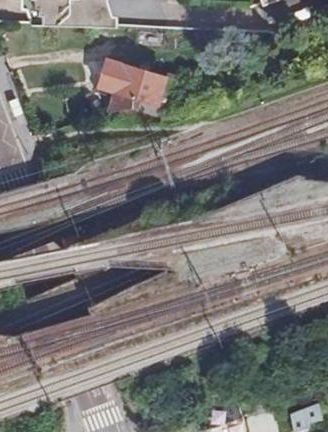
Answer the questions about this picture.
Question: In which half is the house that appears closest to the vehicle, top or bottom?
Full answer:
You can find the house that appears closest to the vehicle in the top half.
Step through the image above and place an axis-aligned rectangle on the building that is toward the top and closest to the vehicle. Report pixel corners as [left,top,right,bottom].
[96,58,168,115]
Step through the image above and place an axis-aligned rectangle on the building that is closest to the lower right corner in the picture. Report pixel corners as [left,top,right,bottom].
[290,404,322,431]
